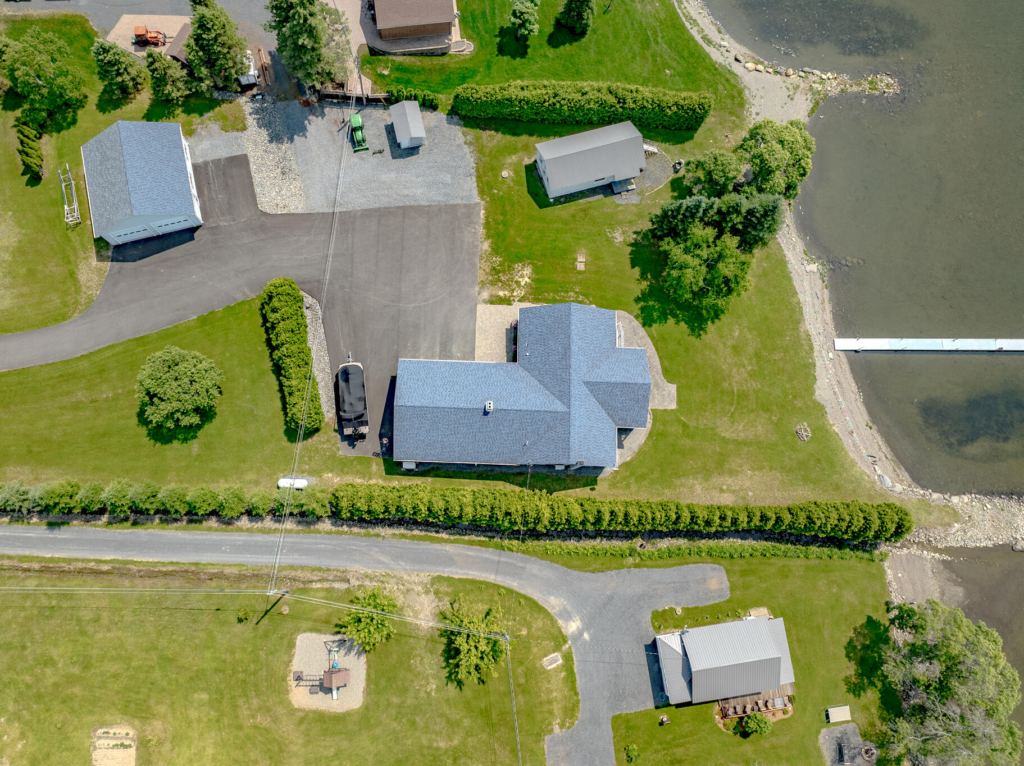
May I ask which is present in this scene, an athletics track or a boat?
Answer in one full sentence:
Looking from above, you can make out a boat.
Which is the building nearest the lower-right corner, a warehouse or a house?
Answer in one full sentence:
Looking closely, the building nearest the lower-right corner is a house.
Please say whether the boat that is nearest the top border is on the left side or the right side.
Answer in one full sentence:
The boat that is nearest the top border appears in the left half of the scene.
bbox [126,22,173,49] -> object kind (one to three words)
work vehicle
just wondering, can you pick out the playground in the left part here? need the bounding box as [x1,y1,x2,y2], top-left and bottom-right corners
[289,634,366,712]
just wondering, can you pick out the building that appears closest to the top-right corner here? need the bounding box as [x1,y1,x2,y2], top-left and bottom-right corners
[534,120,645,202]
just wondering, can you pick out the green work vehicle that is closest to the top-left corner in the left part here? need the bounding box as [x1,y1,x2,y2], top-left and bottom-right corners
[352,115,367,152]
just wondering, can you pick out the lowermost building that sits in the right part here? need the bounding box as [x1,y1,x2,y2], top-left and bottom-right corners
[653,615,795,705]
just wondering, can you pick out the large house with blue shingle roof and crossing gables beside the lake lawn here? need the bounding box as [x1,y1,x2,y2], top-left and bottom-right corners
[393,302,651,474]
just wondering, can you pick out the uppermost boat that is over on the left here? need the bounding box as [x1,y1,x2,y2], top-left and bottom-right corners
[338,364,370,439]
